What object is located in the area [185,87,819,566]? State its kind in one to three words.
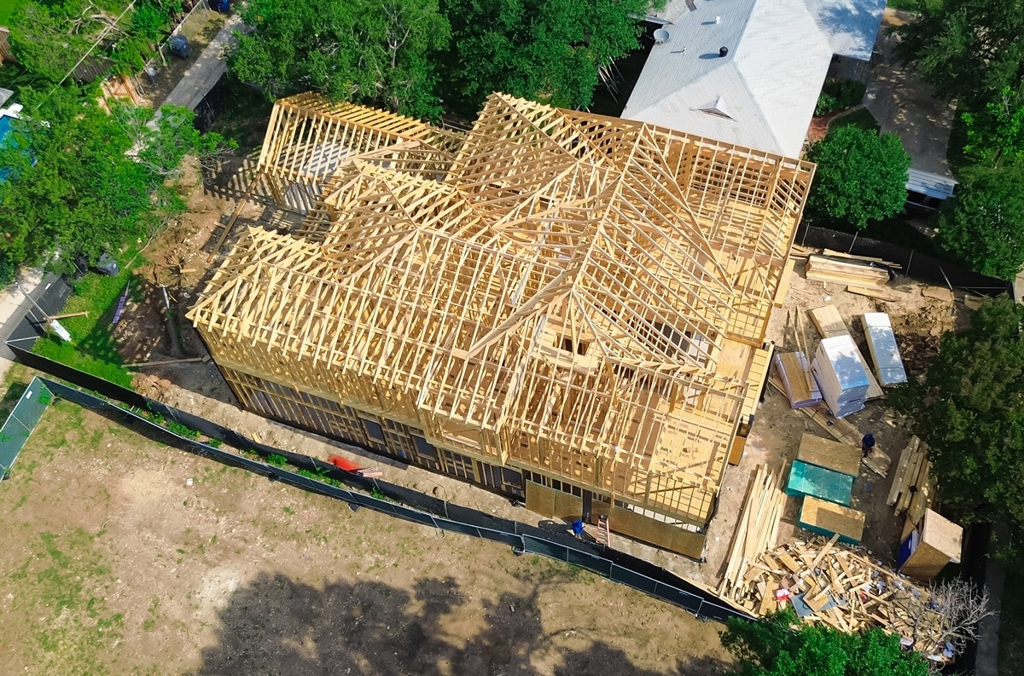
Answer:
house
